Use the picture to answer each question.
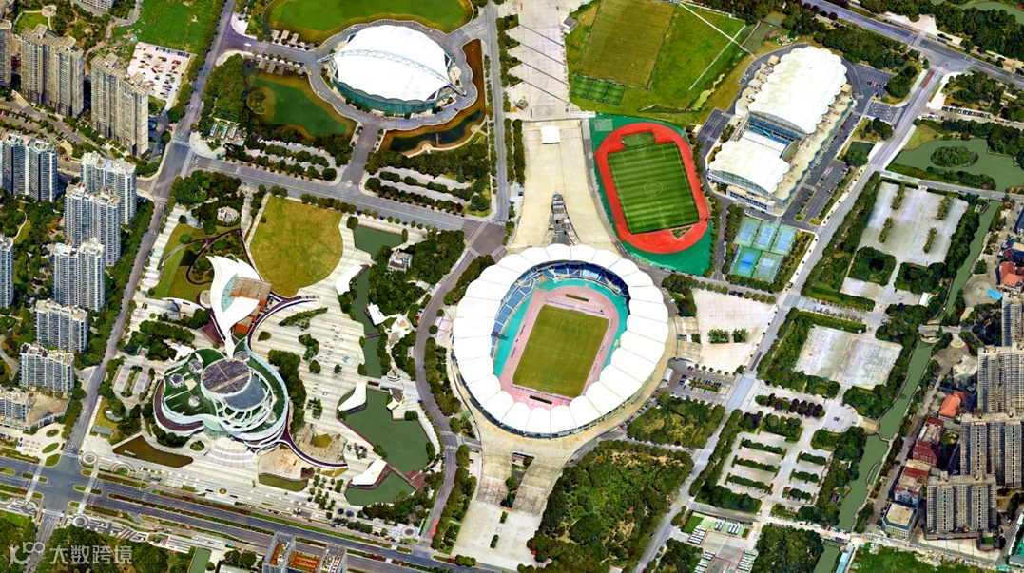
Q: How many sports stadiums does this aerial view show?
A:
2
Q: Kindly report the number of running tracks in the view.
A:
2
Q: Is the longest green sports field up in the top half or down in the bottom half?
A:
top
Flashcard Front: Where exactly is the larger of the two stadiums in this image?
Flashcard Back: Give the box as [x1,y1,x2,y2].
[450,241,671,448]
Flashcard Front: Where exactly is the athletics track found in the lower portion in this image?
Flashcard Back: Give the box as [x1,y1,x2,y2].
[502,282,619,411]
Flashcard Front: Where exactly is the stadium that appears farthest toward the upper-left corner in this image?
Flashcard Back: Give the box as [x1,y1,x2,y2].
[314,25,469,117]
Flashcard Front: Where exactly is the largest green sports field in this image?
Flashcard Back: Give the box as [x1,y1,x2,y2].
[588,110,713,277]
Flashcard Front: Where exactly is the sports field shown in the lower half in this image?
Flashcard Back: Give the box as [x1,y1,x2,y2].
[515,304,607,397]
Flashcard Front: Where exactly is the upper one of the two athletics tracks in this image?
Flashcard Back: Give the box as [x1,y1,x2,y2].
[593,123,709,253]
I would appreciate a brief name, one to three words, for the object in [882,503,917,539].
building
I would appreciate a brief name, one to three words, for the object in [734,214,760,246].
tennis court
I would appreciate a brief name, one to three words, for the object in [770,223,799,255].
tennis court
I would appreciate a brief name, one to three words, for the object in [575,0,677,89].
soccer field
